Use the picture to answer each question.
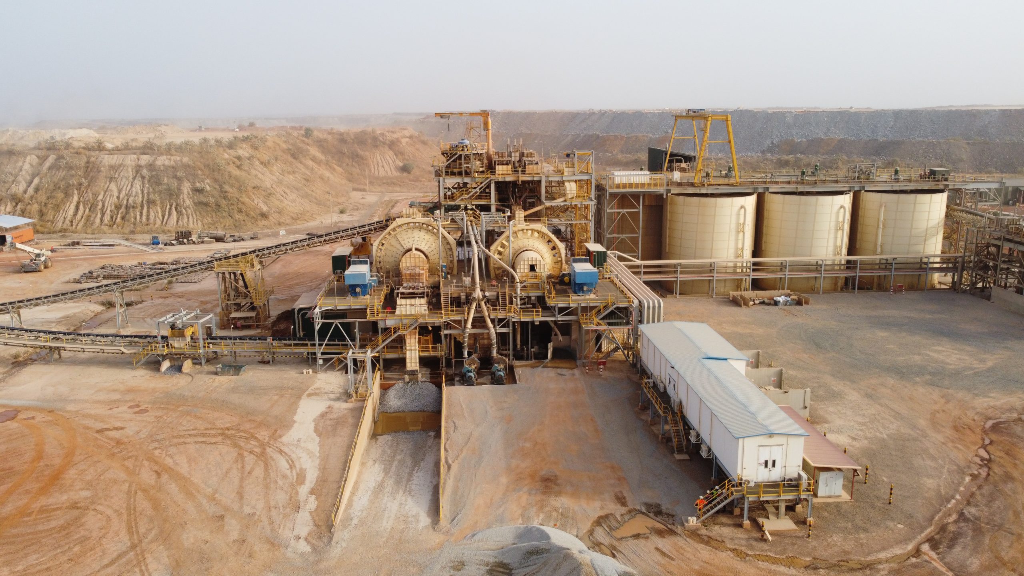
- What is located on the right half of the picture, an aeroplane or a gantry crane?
gantry crane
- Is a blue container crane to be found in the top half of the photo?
No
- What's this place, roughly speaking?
industrial area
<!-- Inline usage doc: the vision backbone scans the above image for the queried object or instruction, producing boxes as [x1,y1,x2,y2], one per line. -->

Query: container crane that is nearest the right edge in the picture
[660,105,743,185]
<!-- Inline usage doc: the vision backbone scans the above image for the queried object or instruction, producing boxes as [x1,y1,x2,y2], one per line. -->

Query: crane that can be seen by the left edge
[0,234,67,272]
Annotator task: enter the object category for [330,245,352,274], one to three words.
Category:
shed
